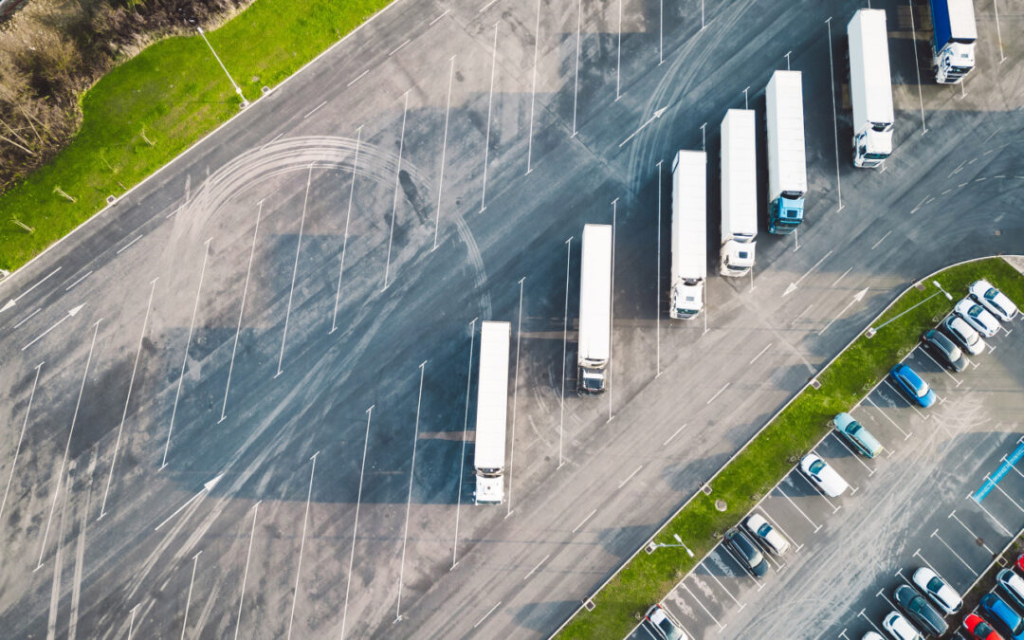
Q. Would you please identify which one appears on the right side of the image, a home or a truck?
truck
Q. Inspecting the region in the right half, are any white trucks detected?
Yes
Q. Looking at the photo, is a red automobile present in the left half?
No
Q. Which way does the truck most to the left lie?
up and down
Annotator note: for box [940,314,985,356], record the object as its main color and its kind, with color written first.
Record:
white car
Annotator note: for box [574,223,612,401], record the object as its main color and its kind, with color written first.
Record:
white truck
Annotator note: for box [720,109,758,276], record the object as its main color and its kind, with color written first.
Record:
white truck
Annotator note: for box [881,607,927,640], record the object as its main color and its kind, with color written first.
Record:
white car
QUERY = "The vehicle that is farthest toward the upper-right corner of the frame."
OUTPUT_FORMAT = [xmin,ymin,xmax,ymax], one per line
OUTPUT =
[926,0,977,84]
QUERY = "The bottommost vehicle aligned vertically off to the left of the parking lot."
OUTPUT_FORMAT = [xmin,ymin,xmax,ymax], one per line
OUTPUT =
[471,318,509,505]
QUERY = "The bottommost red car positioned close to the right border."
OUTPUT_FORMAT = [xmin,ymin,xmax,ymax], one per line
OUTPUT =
[963,613,1006,640]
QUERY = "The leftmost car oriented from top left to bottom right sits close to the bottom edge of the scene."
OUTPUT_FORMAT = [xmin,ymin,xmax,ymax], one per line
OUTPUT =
[644,599,692,640]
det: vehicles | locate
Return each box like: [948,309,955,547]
[963,613,1006,640]
[846,9,893,167]
[764,71,806,235]
[832,412,883,460]
[954,299,1000,339]
[912,567,963,616]
[919,327,969,373]
[720,109,758,276]
[745,512,791,560]
[800,452,850,500]
[980,596,1024,640]
[671,148,707,319]
[574,223,612,401]
[947,631,969,640]
[721,526,771,579]
[970,282,1016,321]
[1015,556,1024,577]
[893,584,949,639]
[889,364,934,407]
[940,314,985,356]
[471,318,509,505]
[644,599,692,640]
[995,569,1024,611]
[881,607,927,640]
[926,0,977,84]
